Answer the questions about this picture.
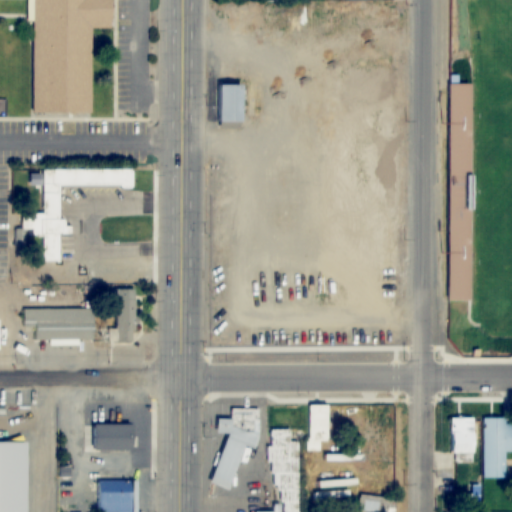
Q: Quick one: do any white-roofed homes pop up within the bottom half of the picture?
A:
Yes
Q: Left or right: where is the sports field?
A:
right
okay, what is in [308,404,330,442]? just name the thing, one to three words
house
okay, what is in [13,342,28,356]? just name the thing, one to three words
vehicle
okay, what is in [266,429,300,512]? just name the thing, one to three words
building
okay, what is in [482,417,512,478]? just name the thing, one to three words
house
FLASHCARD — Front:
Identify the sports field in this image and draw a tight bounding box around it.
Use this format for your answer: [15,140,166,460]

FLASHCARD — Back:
[450,0,512,357]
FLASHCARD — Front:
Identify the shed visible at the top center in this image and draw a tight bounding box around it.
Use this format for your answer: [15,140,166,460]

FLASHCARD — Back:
[218,84,246,122]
